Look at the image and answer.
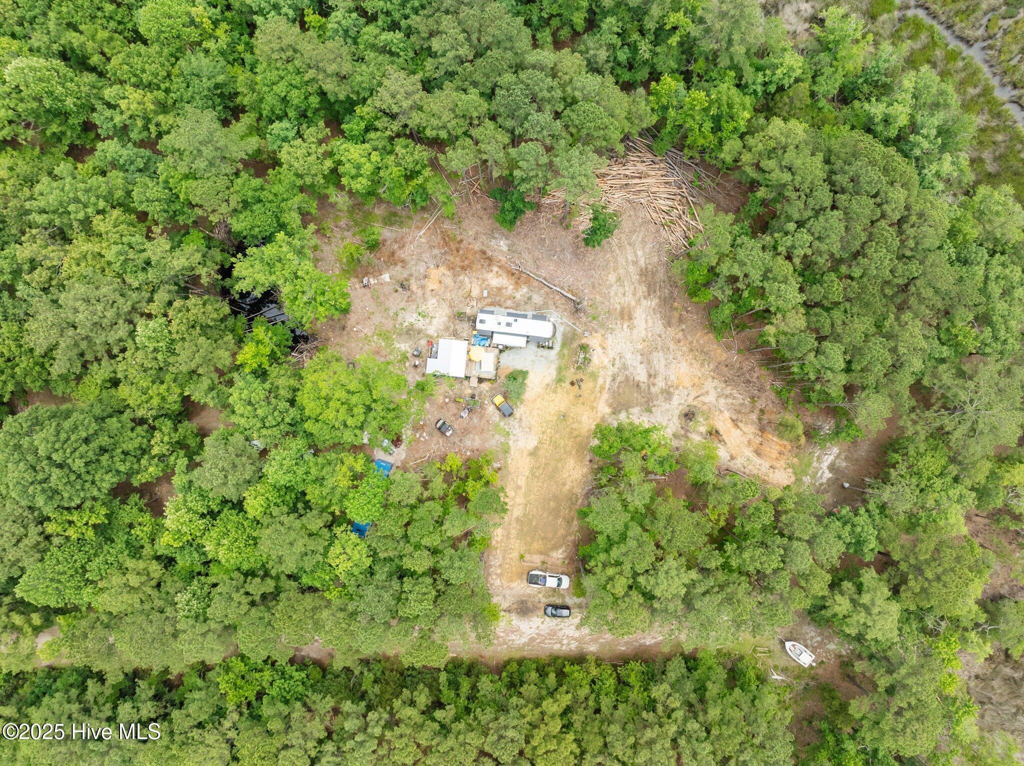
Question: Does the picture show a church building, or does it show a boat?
boat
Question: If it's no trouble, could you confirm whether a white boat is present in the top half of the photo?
No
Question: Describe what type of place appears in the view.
forest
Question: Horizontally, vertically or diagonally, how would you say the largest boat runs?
diagonally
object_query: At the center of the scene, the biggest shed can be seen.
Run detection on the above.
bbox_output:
[426,338,468,377]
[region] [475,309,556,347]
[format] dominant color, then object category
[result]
white trailer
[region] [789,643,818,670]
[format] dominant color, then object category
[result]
white boat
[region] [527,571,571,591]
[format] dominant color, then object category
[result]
white vehicle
